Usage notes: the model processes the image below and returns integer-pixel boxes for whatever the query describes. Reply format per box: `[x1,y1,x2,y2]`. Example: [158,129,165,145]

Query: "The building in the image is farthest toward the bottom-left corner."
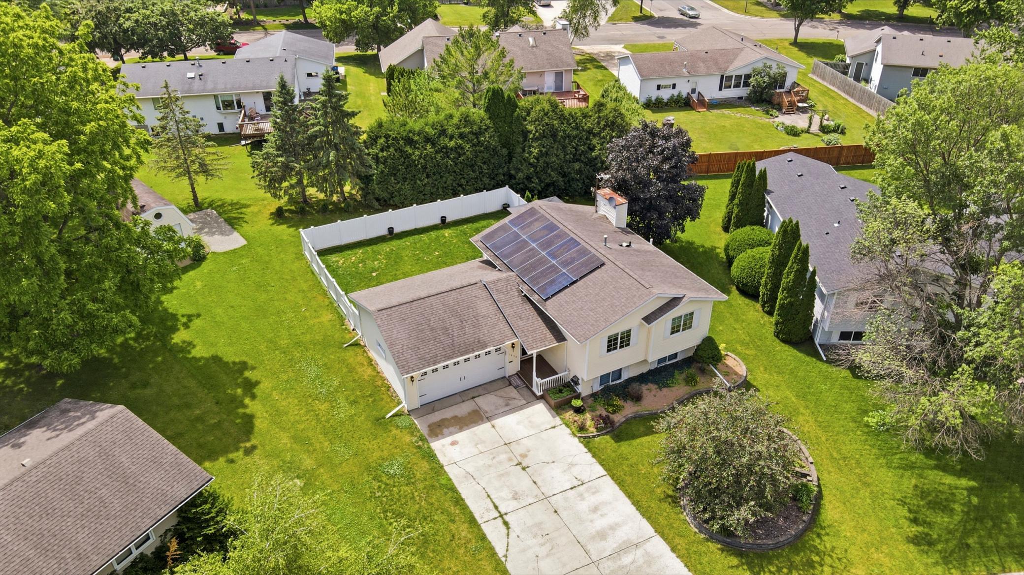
[0,400,214,575]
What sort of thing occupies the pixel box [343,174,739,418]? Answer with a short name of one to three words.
house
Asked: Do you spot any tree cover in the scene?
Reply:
Yes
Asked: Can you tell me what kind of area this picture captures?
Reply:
residential area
